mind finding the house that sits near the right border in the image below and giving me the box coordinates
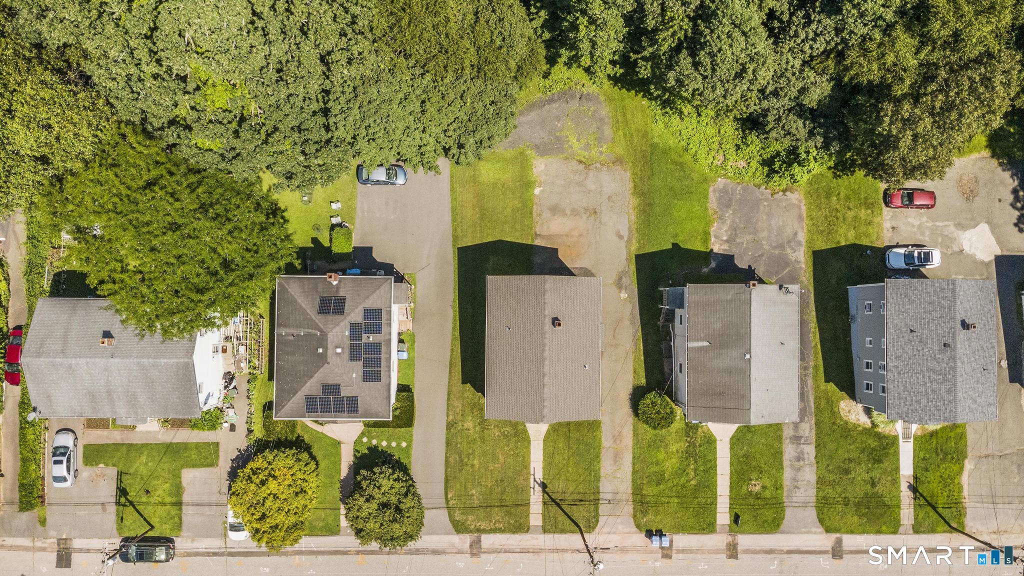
[847,278,999,423]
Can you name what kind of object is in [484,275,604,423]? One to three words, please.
house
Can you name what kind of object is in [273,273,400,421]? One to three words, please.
house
